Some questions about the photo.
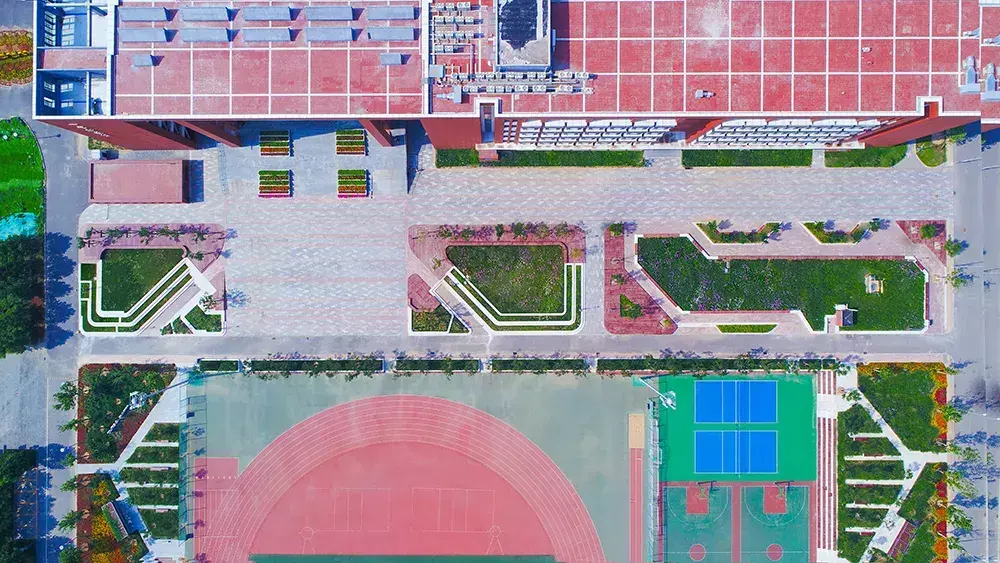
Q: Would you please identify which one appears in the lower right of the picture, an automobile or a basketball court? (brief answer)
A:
basketball court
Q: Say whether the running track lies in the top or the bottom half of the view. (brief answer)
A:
bottom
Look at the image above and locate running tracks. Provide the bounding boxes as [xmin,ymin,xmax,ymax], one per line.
[194,394,604,563]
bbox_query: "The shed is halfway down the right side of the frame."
[834,305,858,326]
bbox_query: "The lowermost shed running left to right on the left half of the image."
[89,160,189,205]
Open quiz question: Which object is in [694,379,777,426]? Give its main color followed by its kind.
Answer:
blue sports court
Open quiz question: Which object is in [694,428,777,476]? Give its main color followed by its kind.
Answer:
blue sports court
